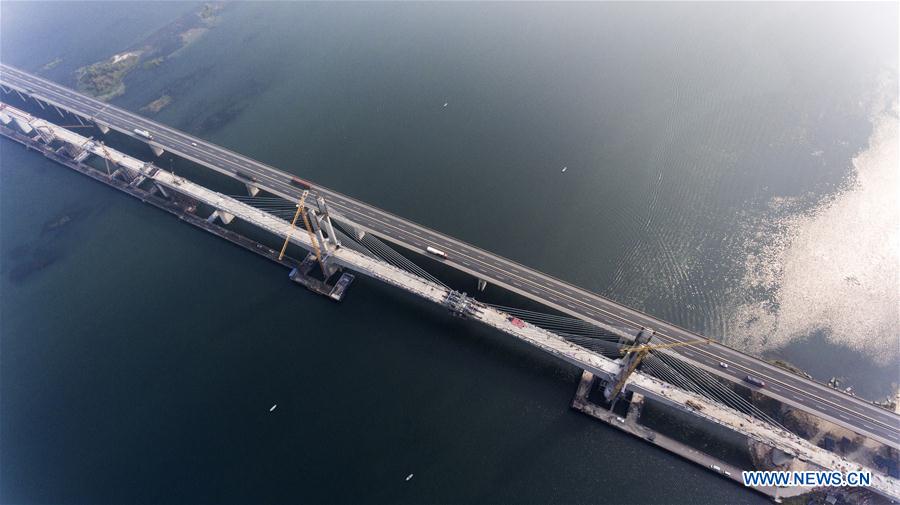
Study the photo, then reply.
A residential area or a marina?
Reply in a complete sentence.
What you see here is a marina.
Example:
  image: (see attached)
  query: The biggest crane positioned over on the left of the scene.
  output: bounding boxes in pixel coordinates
[278,190,330,284]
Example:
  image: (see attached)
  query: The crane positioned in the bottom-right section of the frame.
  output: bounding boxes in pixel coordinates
[613,339,709,408]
